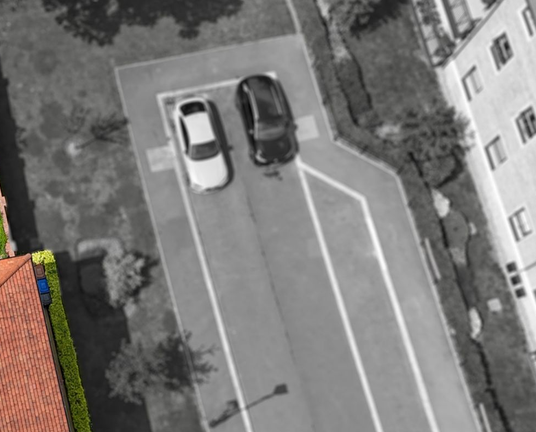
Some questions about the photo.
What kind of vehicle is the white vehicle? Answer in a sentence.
From above, the white vehicle can be identified as a car.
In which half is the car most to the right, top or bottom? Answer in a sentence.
It is in the top half that the car most to the right appears.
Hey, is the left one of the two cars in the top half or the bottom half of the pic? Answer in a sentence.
It is in the top half that the left one of the two cars appears.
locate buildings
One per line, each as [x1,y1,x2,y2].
[0,253,70,432]
[416,0,536,322]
